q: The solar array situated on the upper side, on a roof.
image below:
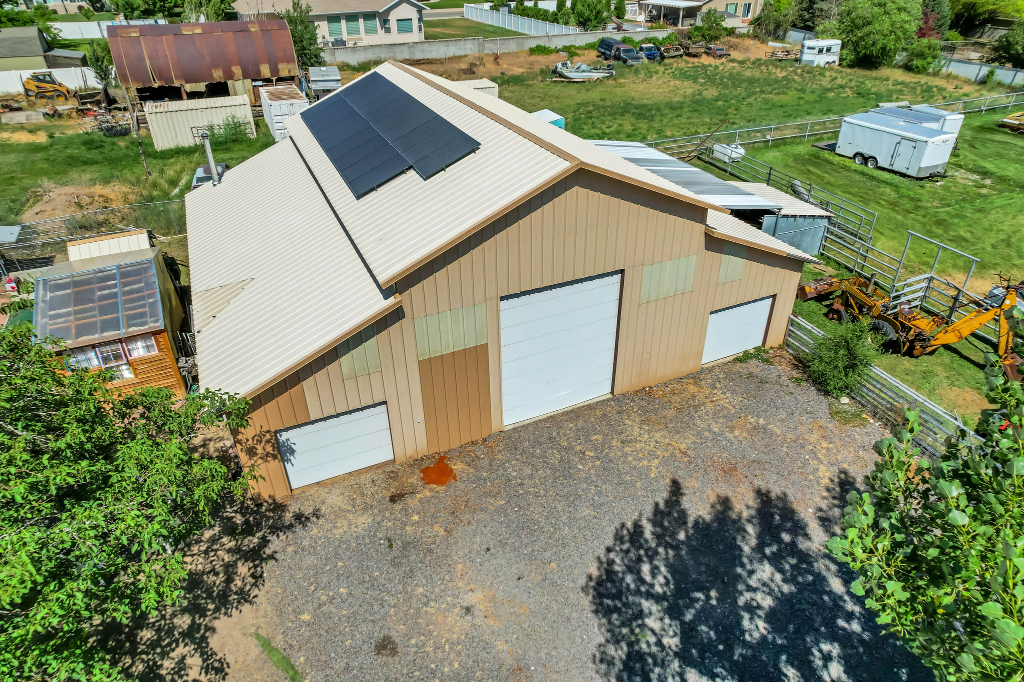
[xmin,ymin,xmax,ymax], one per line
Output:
[294,72,481,201]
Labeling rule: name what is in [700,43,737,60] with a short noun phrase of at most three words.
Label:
car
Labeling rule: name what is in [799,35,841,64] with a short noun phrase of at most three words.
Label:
trailer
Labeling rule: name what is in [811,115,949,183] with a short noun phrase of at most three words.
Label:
trailer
